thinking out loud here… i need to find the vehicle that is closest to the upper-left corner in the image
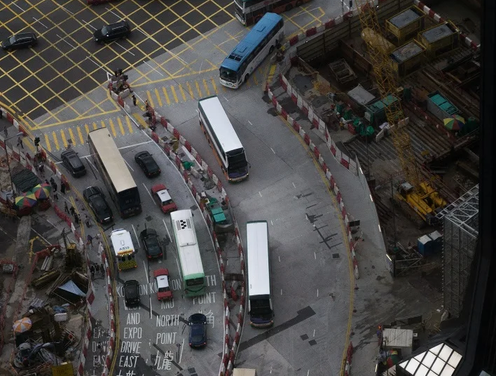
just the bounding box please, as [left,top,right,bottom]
[2,31,35,49]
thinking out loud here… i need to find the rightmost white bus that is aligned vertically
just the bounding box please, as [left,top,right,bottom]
[246,221,274,315]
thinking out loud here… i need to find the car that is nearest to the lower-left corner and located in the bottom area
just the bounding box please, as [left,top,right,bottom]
[122,278,140,306]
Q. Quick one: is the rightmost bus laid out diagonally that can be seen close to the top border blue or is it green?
blue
